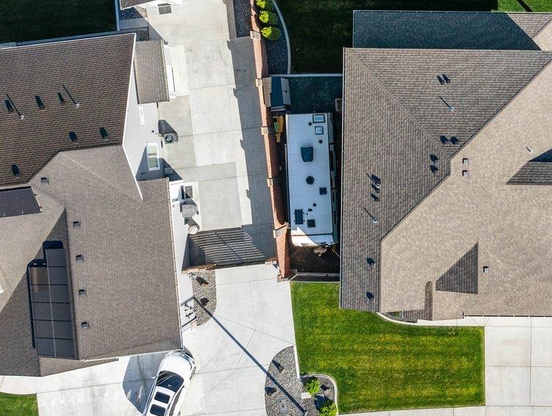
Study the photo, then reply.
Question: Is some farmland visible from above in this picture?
No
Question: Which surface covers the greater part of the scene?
buildings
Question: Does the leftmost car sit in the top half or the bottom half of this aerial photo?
bottom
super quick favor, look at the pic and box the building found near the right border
[339,9,552,321]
